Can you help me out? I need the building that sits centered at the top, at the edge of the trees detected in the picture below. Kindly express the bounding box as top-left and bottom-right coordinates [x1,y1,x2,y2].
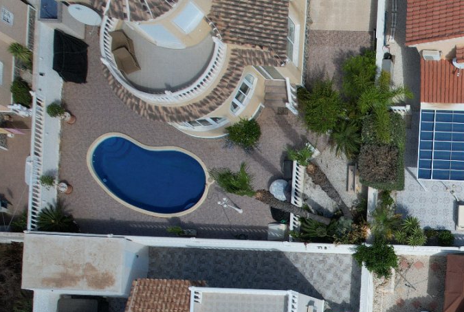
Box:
[100,0,305,137]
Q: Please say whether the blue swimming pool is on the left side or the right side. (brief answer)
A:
left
